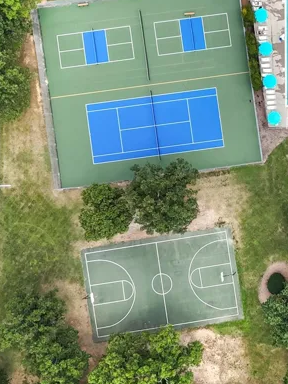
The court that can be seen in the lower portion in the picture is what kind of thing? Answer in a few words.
basketball court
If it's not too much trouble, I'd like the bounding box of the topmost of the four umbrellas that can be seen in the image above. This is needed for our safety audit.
[254,8,268,23]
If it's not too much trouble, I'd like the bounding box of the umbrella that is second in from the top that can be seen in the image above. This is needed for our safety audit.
[259,42,273,56]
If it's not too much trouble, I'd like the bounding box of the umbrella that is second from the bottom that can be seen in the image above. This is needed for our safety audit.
[263,73,277,88]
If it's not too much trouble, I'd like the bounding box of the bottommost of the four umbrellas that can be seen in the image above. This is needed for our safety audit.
[266,111,280,125]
